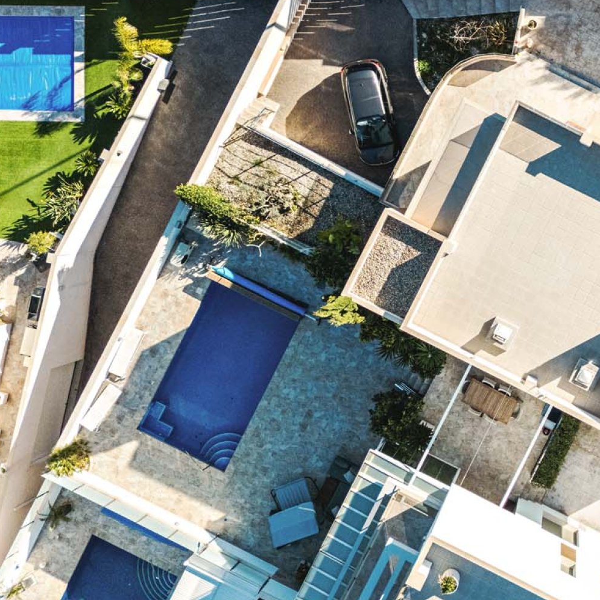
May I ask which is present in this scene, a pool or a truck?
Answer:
pool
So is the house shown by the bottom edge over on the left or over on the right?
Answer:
right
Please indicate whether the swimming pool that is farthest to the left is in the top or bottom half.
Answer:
top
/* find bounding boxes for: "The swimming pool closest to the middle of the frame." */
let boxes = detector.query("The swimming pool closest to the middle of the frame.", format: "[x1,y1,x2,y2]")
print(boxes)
[138,279,305,471]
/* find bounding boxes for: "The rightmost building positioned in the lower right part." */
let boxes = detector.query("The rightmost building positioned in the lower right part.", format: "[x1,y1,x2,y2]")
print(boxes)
[397,487,600,600]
